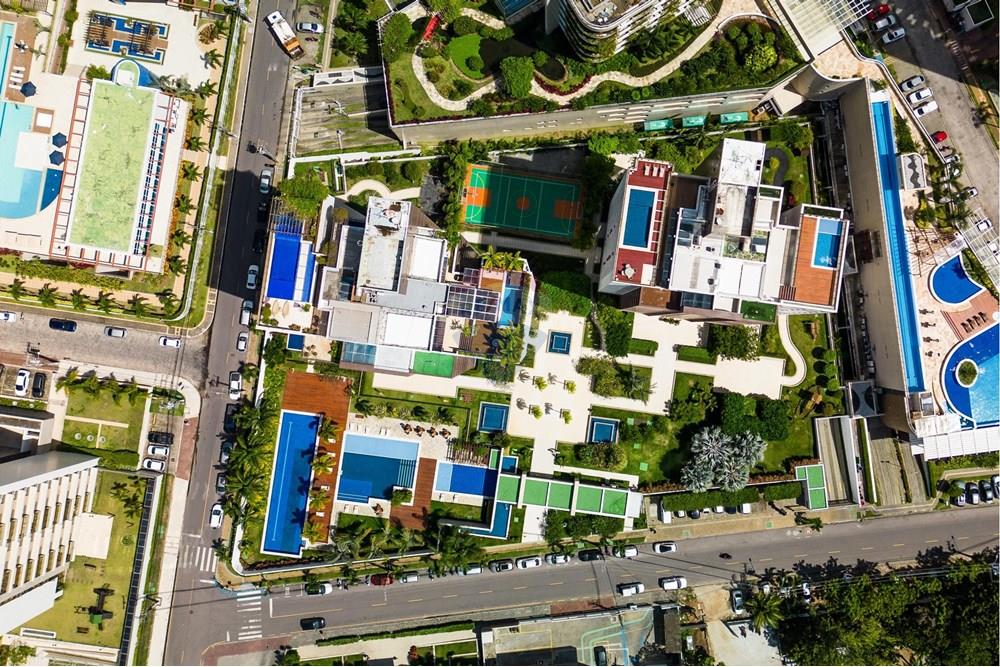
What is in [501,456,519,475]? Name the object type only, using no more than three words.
swimming pool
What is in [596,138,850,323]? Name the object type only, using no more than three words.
building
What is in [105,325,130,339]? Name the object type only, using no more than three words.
vehicle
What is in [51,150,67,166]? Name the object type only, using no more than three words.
umbrella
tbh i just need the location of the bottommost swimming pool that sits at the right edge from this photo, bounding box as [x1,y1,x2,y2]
[941,322,1000,429]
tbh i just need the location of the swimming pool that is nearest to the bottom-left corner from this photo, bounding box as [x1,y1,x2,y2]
[261,408,321,558]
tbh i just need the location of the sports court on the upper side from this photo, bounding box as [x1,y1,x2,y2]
[455,153,591,242]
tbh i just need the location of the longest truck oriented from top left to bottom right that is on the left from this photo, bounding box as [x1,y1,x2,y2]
[264,10,307,63]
